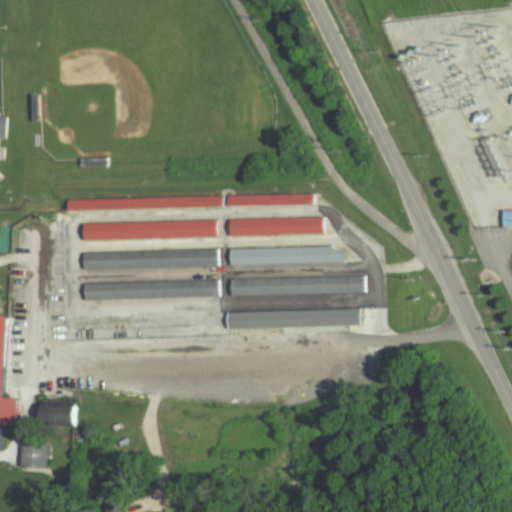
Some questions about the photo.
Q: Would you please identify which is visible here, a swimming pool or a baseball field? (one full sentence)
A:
Of the two, only a baseball field appears.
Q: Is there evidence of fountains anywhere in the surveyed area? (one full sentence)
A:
No, I can't see a single fountain in this photo.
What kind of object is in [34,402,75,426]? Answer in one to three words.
barn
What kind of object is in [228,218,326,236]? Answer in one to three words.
building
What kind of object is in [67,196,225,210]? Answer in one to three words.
building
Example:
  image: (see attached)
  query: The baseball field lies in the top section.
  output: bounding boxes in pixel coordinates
[43,48,152,158]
